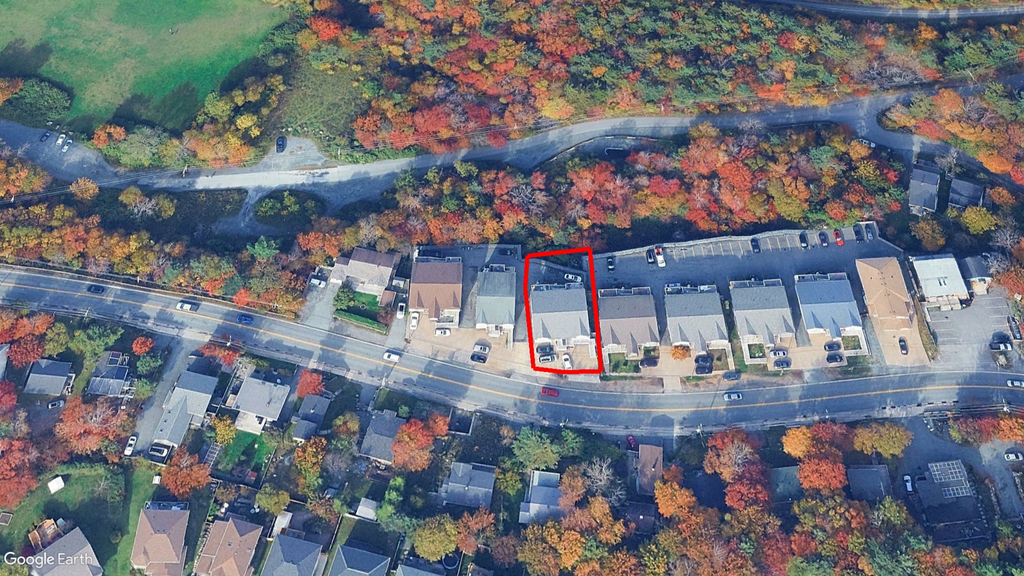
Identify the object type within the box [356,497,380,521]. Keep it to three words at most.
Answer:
shed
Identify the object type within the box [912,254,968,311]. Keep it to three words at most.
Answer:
building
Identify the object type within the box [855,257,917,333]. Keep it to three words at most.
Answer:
house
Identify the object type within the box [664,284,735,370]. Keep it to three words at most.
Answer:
house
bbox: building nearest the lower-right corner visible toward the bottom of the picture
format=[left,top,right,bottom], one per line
[915,460,988,542]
